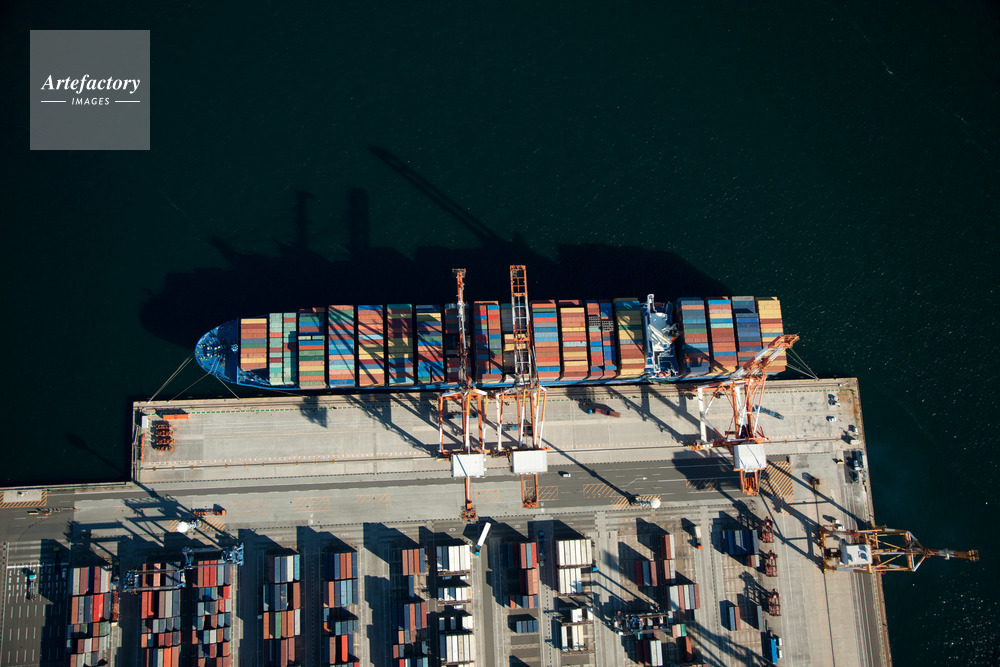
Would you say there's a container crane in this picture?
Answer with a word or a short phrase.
Yes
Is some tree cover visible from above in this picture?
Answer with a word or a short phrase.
No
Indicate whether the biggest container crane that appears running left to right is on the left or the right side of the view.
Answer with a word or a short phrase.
right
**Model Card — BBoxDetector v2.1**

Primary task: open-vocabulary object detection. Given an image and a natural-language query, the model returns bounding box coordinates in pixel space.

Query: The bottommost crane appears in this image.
[600,604,671,637]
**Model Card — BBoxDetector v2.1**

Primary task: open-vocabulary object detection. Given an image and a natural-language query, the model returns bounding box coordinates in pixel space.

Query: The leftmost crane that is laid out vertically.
[428,266,493,520]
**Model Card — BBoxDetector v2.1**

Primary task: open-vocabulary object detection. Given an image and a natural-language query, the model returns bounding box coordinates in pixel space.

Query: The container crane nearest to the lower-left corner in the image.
[125,561,194,593]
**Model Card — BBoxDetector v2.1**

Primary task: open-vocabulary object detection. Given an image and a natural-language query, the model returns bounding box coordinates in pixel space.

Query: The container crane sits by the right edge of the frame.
[822,522,983,581]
